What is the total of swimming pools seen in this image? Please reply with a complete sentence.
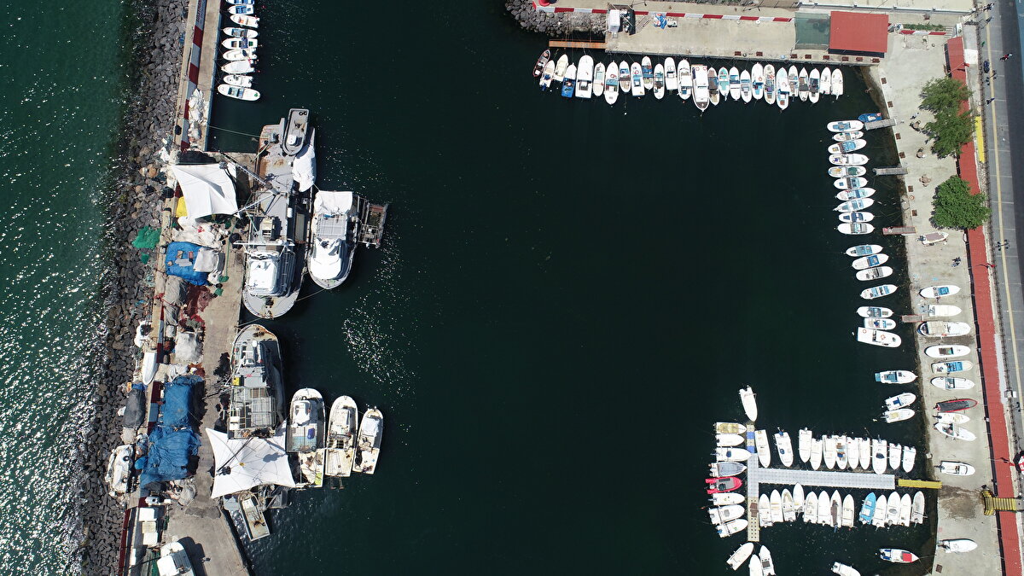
The count of swimming pools is 0.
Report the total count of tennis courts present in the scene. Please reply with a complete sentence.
Not a single tennis court can be seen.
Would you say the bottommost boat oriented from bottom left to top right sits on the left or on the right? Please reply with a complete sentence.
The bottommost boat oriented from bottom left to top right sits on the right side.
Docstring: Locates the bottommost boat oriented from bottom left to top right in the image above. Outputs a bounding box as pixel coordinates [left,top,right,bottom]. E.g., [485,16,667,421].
[727,544,753,570]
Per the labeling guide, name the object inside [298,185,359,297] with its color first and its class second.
white vessel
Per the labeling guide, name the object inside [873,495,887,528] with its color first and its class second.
white boat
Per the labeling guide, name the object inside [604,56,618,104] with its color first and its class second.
white boat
